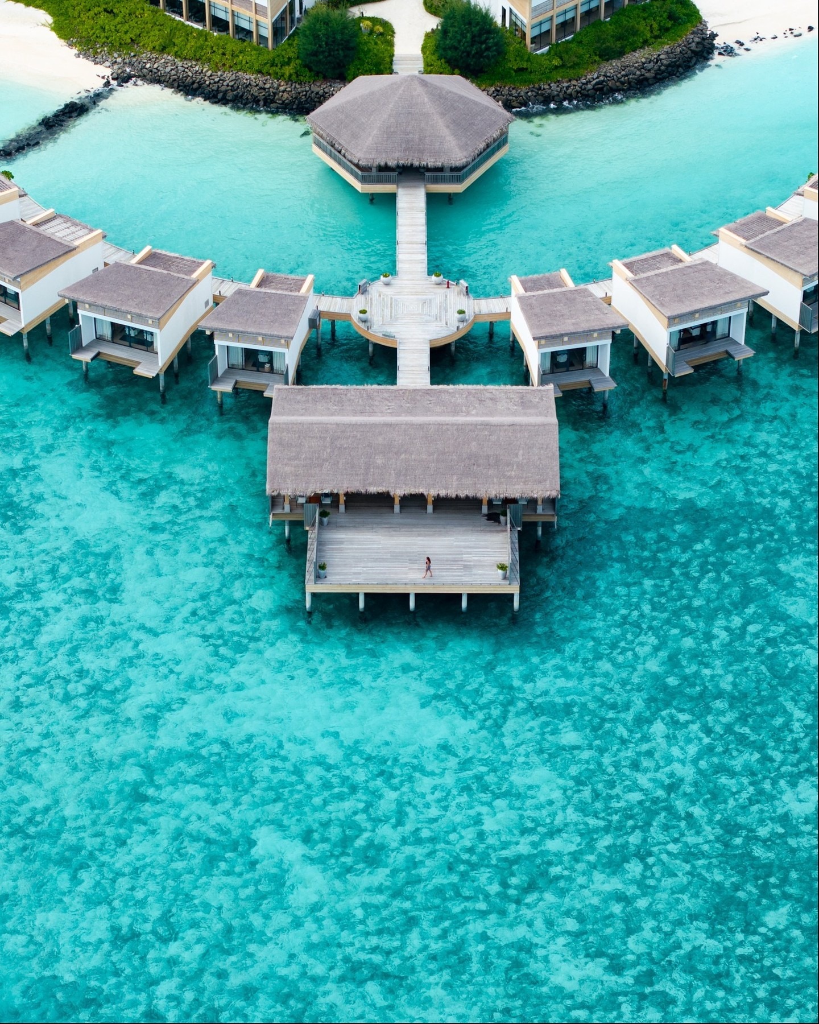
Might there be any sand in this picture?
Yes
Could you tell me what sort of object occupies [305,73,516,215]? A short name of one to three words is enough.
building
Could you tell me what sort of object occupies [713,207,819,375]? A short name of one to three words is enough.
house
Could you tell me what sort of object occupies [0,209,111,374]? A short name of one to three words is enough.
house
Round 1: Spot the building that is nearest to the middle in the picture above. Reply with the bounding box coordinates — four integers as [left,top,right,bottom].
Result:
[266,382,562,644]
